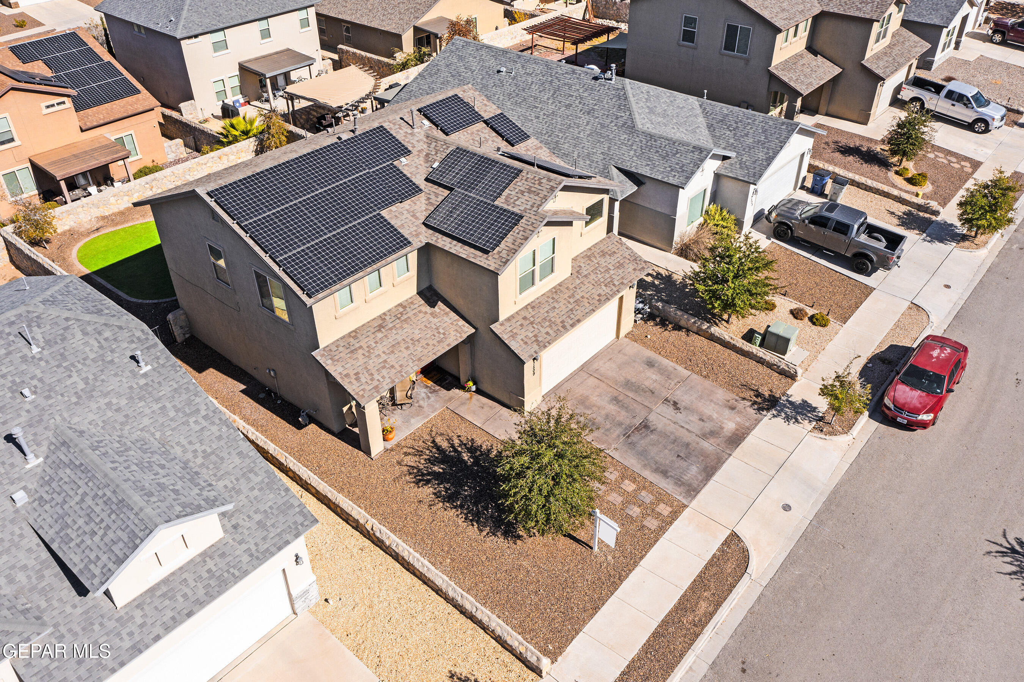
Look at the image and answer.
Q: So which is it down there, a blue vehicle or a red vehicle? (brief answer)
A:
red vehicle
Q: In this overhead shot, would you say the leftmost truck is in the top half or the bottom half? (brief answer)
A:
top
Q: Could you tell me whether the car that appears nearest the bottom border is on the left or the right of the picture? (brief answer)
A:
right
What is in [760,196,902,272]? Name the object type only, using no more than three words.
truck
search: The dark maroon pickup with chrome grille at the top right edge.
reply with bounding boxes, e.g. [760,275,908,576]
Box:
[983,16,1024,47]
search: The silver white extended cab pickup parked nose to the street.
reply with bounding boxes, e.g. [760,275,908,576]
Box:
[900,80,1016,131]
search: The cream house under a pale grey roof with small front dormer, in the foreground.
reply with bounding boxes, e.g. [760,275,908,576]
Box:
[0,270,321,682]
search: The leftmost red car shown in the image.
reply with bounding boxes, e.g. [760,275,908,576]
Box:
[886,335,974,428]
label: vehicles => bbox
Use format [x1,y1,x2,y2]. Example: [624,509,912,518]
[900,80,1016,131]
[886,335,974,428]
[760,196,902,272]
[983,16,1024,47]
